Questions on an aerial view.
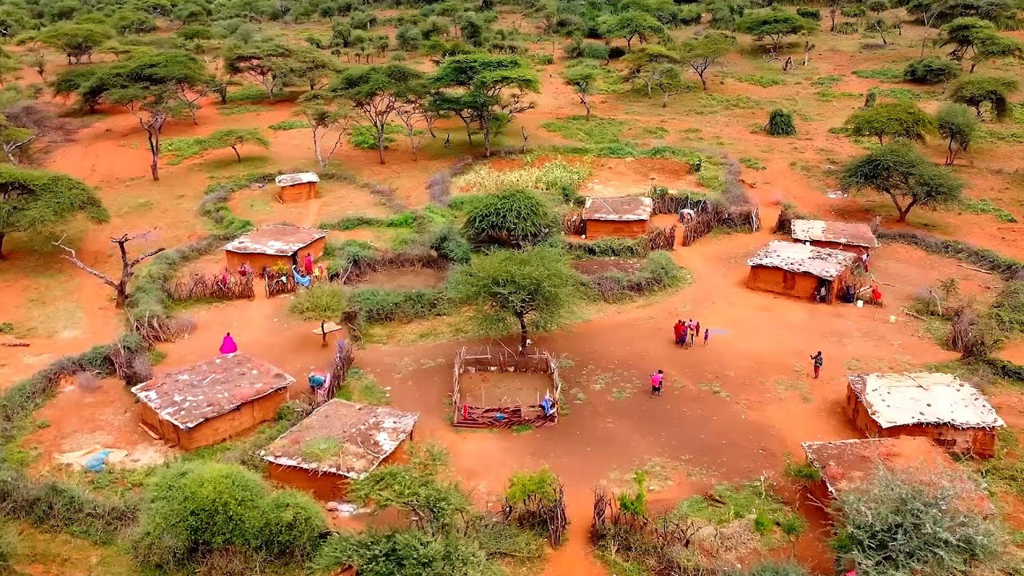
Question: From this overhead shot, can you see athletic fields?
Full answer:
No, no athletic field is visible in the view.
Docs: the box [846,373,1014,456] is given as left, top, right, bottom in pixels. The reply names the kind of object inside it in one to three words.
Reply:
shed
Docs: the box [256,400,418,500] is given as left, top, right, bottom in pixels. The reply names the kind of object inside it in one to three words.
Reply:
shed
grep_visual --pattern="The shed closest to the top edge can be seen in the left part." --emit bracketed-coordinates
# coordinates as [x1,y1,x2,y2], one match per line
[275,174,321,205]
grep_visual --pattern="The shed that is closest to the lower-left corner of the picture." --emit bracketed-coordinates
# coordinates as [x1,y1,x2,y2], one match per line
[132,357,297,453]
